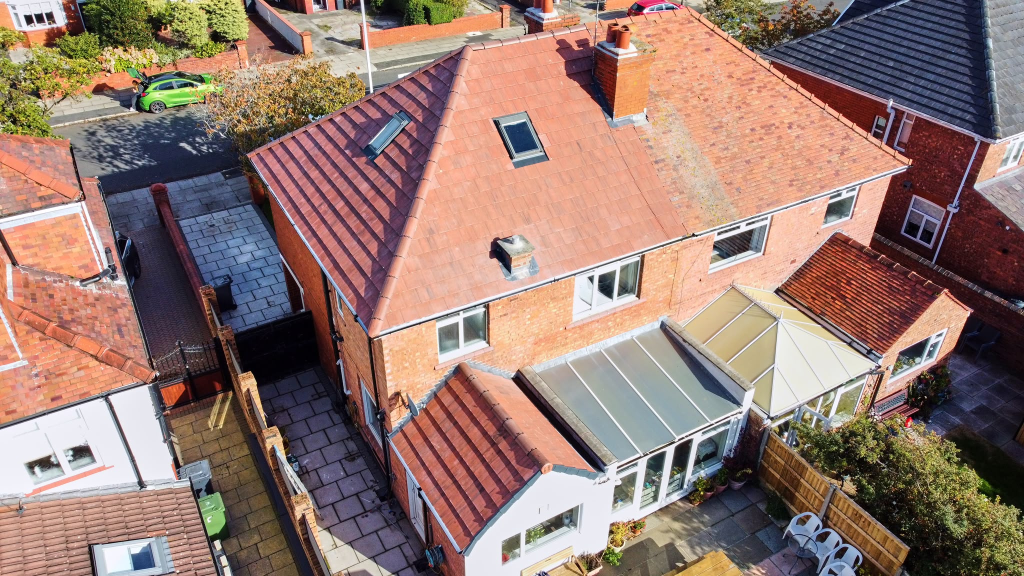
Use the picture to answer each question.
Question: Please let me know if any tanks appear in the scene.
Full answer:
No, no tank is visible in the scene.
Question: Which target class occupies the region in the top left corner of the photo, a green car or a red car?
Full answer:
There is a green car in the top left corner of the photo.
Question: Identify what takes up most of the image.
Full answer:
Most of the picture is covered by buildings.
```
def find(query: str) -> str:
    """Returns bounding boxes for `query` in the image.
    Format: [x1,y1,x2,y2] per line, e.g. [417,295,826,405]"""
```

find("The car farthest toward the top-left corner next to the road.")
[119,67,215,115]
